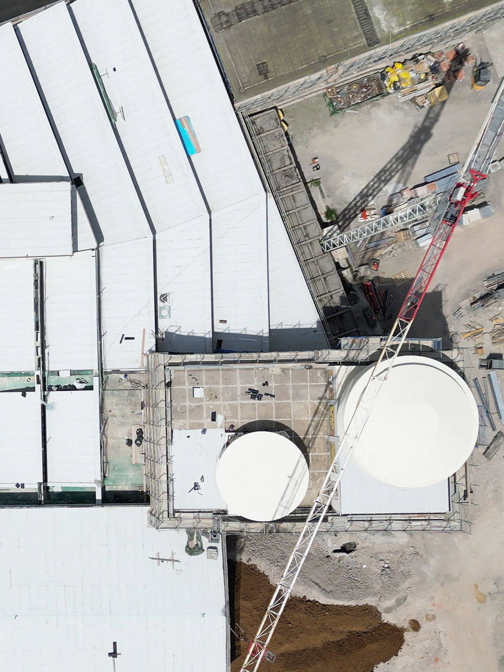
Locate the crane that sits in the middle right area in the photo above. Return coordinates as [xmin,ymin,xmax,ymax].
[235,71,504,672]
